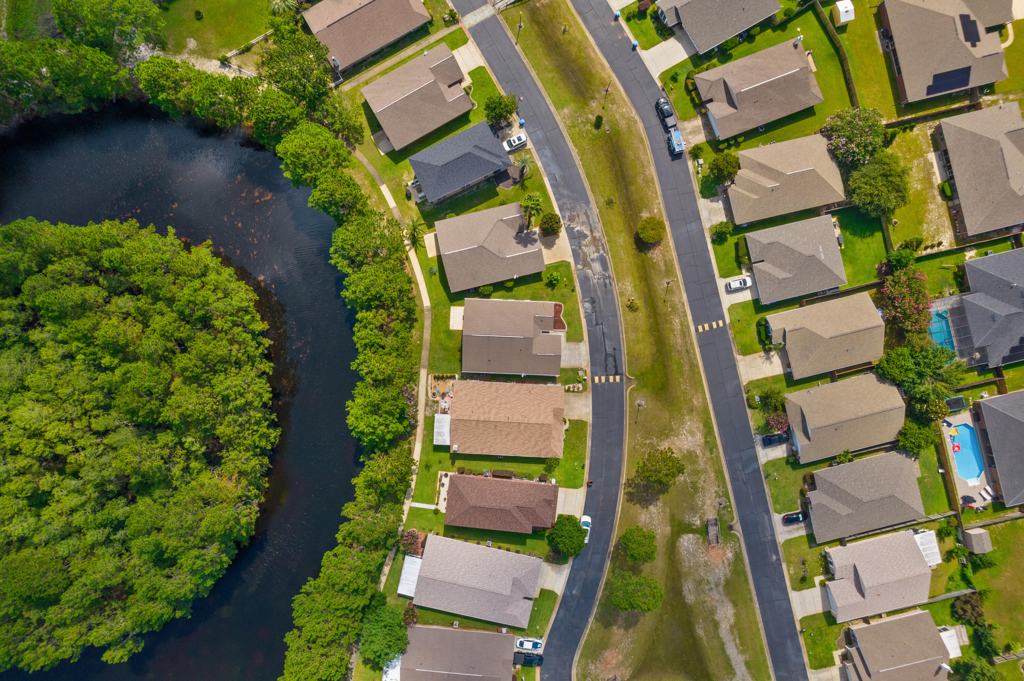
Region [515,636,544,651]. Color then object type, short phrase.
white car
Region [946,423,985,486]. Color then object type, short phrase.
blue swimming pool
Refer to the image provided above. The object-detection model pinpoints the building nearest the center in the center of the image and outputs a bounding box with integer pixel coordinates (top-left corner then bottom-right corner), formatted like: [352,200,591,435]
[462,298,561,376]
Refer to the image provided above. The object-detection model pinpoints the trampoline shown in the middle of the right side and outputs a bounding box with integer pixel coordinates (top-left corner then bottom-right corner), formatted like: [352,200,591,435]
[946,395,972,412]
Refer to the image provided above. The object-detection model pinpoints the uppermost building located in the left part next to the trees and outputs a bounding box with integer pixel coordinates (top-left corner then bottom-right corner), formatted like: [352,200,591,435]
[302,0,431,74]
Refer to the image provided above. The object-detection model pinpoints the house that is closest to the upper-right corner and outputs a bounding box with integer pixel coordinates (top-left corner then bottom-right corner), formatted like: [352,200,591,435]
[878,0,1015,104]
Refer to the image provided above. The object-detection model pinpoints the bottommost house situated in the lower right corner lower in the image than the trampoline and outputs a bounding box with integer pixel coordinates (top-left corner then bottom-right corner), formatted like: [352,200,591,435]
[842,610,957,681]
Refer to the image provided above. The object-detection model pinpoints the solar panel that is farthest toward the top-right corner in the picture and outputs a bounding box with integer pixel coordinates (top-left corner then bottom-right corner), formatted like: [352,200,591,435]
[960,13,980,41]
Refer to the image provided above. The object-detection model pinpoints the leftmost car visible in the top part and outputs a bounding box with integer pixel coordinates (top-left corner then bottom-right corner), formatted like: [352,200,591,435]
[501,134,529,151]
